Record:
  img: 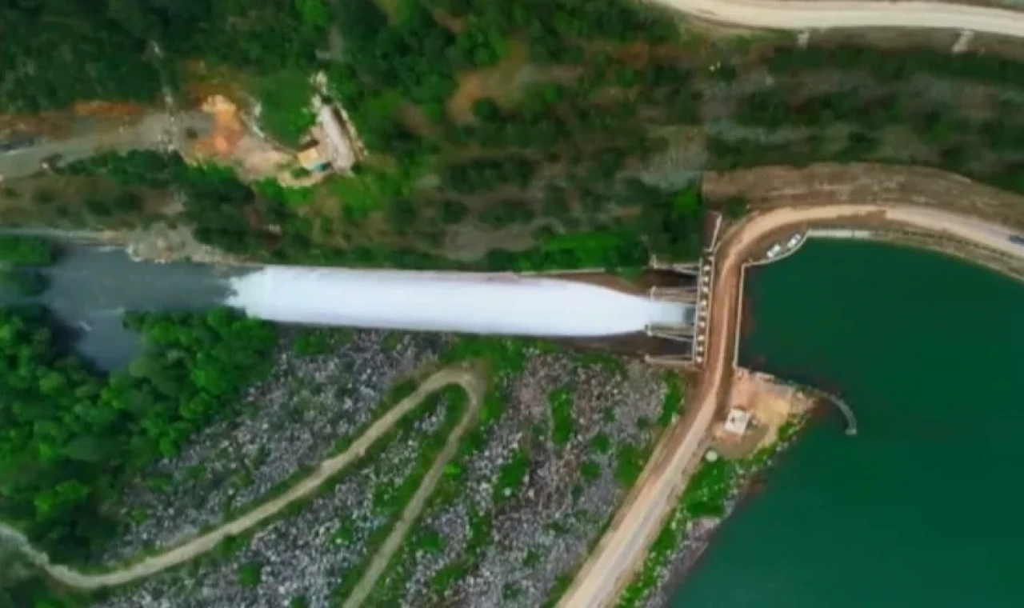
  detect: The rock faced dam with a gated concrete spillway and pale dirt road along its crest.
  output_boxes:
[86,213,871,608]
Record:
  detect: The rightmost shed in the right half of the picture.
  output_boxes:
[723,408,751,436]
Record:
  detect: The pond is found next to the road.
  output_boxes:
[671,238,1024,608]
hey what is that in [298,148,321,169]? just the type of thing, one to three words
building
